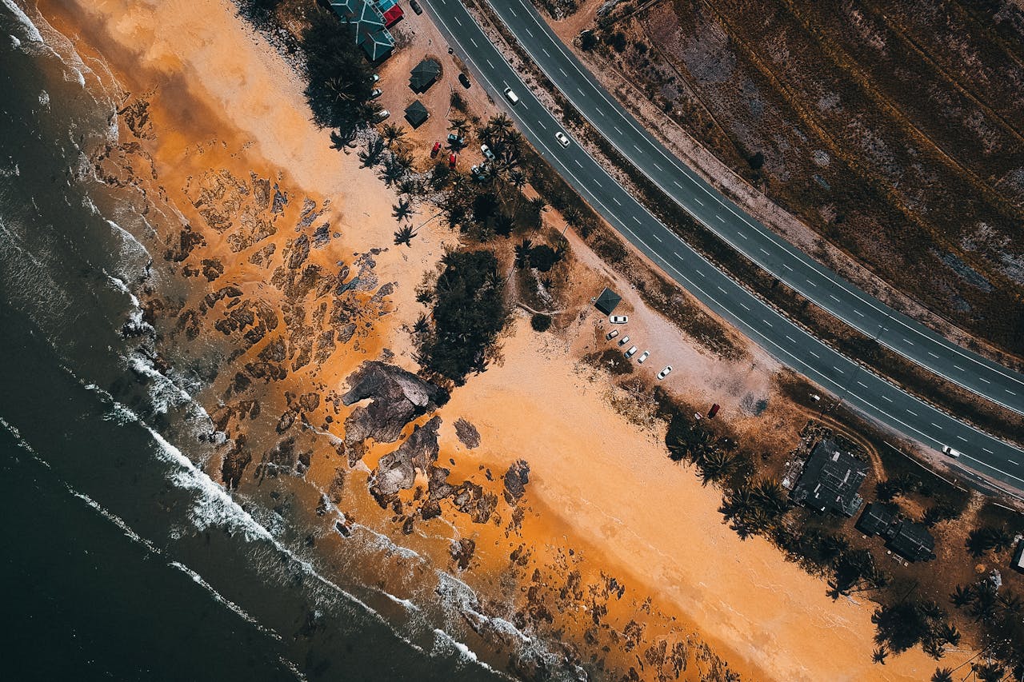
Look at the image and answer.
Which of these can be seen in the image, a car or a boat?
car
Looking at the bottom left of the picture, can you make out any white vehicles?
No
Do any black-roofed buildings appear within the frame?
Yes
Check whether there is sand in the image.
Yes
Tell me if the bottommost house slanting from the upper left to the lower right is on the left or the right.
right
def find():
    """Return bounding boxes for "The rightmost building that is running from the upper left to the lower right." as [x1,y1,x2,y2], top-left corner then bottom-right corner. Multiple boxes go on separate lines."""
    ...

[853,501,935,563]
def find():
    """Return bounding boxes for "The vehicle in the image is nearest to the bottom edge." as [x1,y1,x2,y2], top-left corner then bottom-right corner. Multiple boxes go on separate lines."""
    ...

[939,445,961,459]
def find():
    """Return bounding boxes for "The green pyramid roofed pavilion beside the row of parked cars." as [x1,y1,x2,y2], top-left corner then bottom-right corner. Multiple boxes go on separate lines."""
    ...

[595,287,621,314]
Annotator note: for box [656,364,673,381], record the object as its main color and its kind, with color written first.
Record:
white car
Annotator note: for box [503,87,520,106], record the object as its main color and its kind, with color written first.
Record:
white vehicle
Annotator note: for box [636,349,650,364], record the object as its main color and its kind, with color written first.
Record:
white car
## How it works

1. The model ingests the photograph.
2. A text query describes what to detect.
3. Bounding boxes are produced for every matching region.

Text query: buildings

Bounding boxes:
[595,287,621,314]
[1007,537,1024,569]
[853,501,935,563]
[327,0,394,63]
[785,438,868,522]
[412,57,441,90]
[404,99,428,126]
